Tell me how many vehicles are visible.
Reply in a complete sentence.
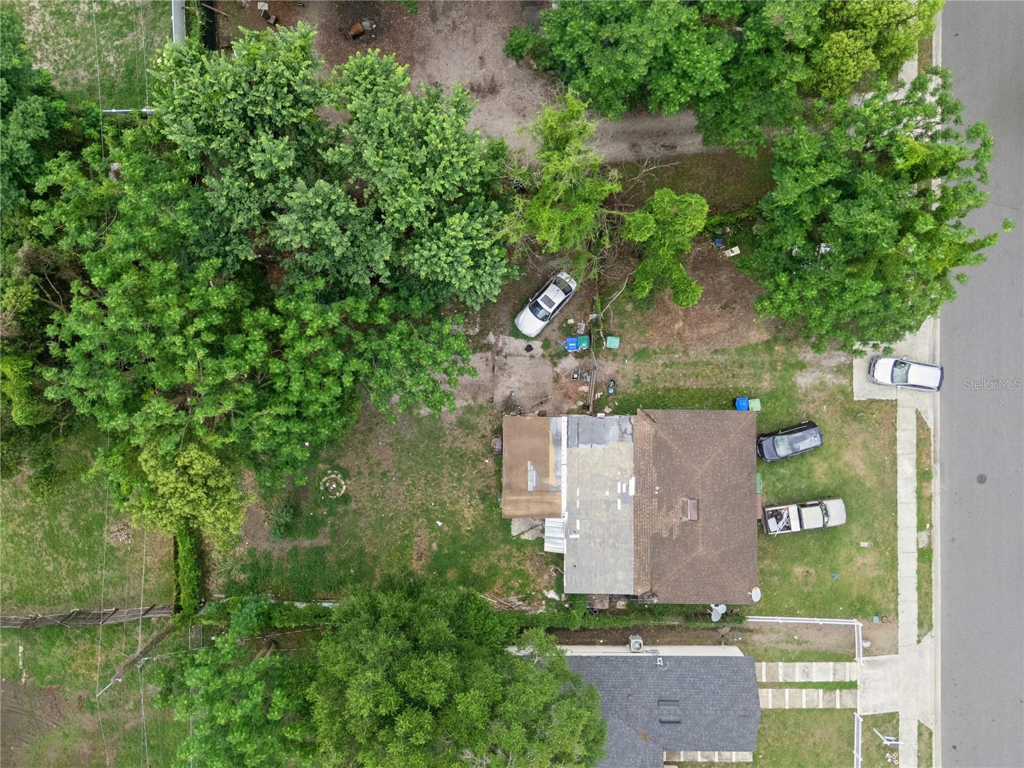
Altogether the scene contains 4 vehicles.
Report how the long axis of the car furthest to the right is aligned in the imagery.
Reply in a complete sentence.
The car furthest to the right is laid out from left to right.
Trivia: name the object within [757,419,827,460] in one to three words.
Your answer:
car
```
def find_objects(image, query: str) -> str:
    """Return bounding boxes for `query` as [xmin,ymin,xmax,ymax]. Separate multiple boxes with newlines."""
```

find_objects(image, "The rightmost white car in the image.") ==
[862,355,950,392]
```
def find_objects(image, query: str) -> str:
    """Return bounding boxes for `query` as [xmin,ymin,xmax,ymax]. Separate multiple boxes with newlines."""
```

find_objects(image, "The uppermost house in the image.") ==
[503,409,758,608]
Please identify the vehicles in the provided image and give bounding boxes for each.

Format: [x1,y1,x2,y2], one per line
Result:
[862,355,950,392]
[757,419,827,460]
[515,270,579,338]
[757,496,847,537]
